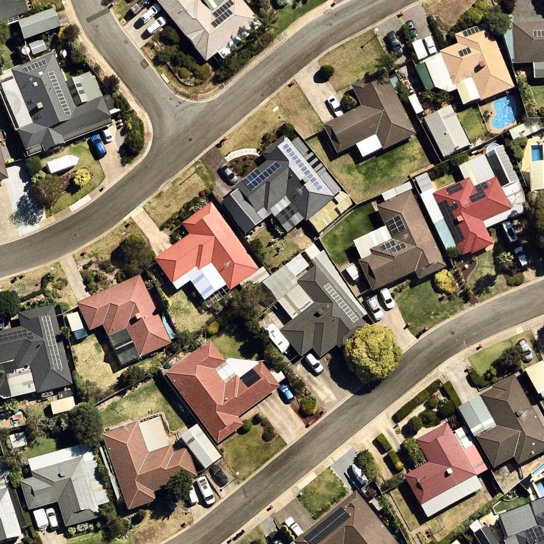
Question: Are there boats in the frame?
Yes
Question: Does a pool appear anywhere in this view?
Yes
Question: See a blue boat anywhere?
No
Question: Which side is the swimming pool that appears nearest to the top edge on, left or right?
right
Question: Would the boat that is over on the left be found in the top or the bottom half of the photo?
top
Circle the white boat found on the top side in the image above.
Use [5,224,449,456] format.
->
[44,156,78,176]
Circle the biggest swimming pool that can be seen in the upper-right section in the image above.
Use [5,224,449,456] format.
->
[488,90,518,131]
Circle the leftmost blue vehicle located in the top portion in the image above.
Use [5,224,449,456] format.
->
[91,134,104,158]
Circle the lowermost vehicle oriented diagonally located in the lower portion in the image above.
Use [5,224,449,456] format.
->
[284,515,303,539]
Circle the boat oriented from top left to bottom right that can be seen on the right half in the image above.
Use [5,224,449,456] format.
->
[351,463,367,484]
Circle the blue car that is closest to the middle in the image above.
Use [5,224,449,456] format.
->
[279,384,294,403]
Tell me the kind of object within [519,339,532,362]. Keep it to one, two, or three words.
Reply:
vehicle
